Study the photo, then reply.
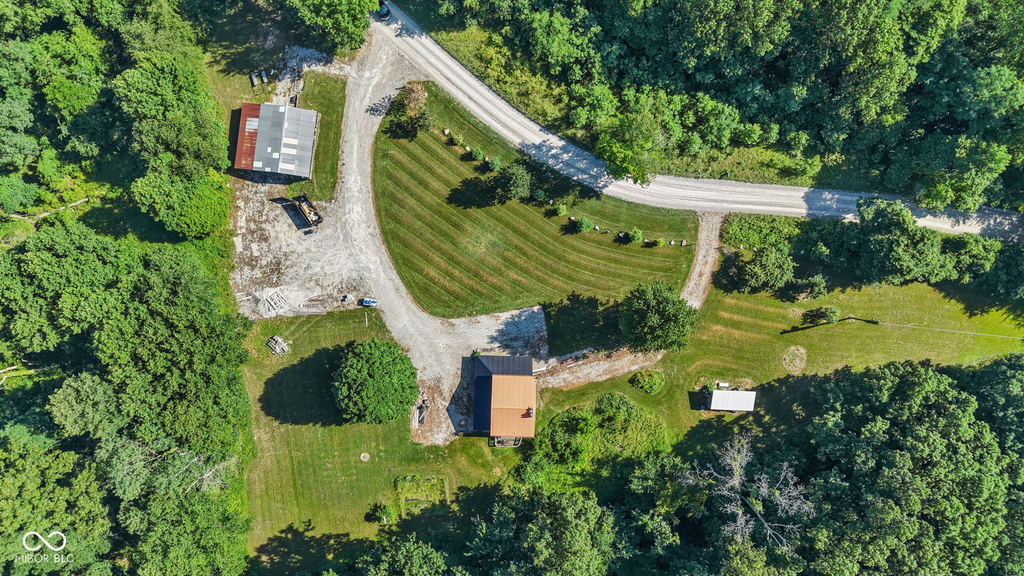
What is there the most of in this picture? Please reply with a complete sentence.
Most of the picture is covered by trees.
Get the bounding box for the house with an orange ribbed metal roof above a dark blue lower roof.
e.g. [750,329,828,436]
[473,355,536,438]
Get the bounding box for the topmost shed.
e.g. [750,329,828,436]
[235,103,320,179]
